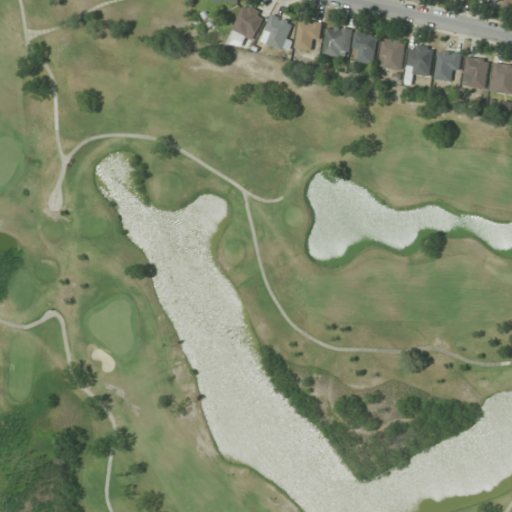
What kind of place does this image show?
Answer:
golf course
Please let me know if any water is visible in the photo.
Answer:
Yes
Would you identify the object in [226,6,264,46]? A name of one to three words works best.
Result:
house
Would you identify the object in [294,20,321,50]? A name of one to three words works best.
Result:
house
